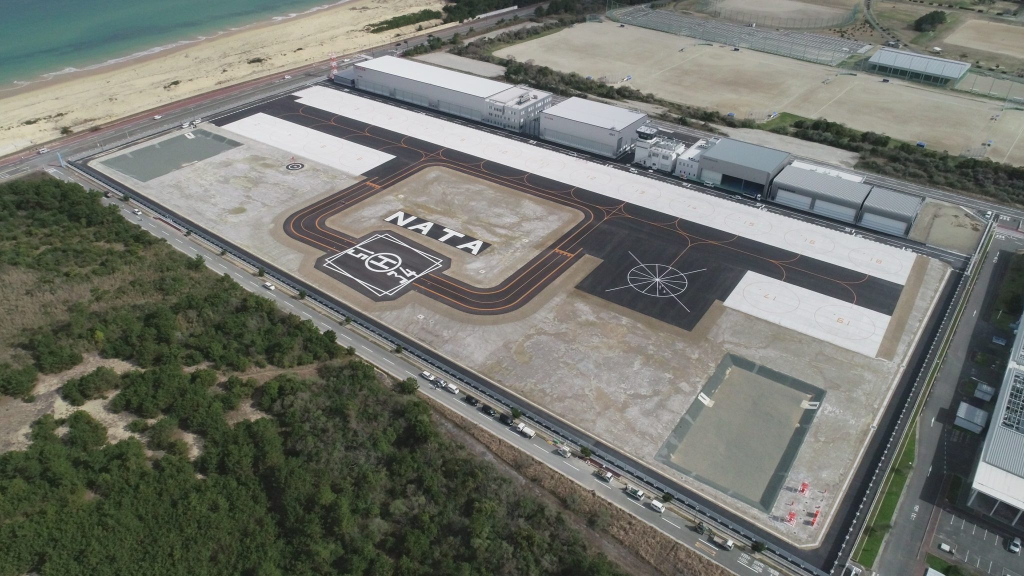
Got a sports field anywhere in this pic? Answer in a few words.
Yes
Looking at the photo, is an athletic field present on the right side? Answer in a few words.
Yes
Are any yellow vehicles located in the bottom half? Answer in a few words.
No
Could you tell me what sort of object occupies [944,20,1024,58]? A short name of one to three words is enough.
sports field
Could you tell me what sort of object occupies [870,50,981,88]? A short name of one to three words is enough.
building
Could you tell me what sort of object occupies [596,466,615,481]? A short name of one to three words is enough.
vehicle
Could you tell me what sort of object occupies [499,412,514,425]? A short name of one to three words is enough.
vehicle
